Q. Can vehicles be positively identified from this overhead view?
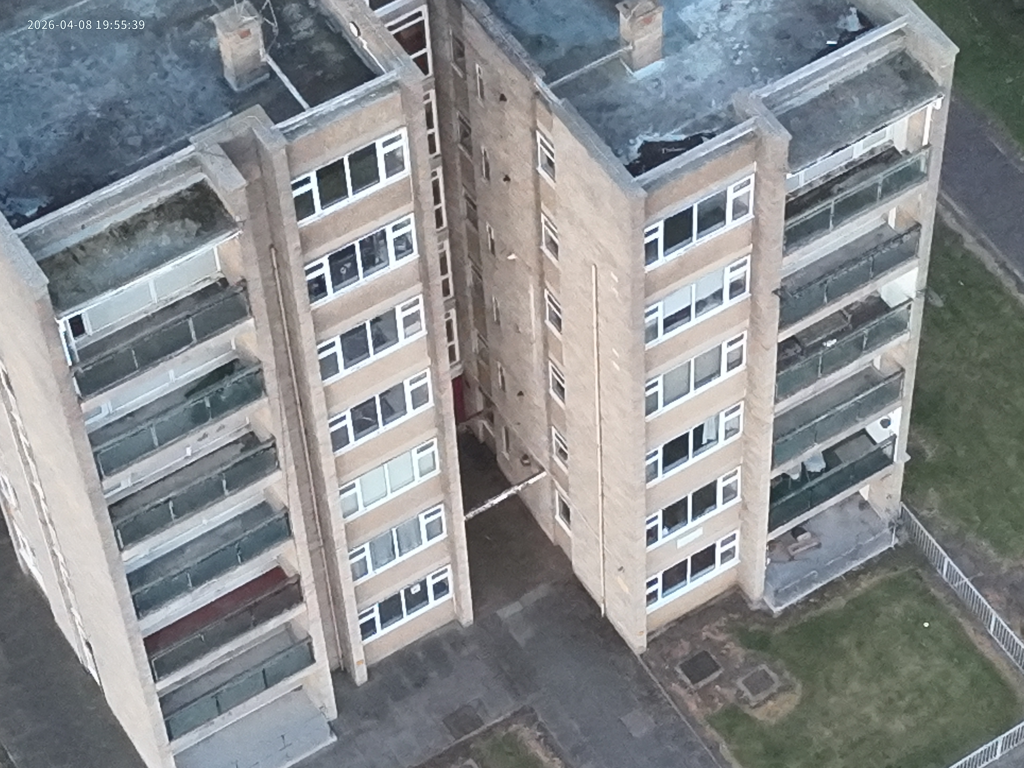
No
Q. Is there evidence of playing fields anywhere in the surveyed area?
No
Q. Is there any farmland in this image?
No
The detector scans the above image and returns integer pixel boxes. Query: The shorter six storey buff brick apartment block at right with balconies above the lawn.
[427,0,959,653]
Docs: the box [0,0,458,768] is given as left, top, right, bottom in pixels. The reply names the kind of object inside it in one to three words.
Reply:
building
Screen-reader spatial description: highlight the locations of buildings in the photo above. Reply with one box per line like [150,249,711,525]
[0,0,458,768]
[427,0,959,653]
